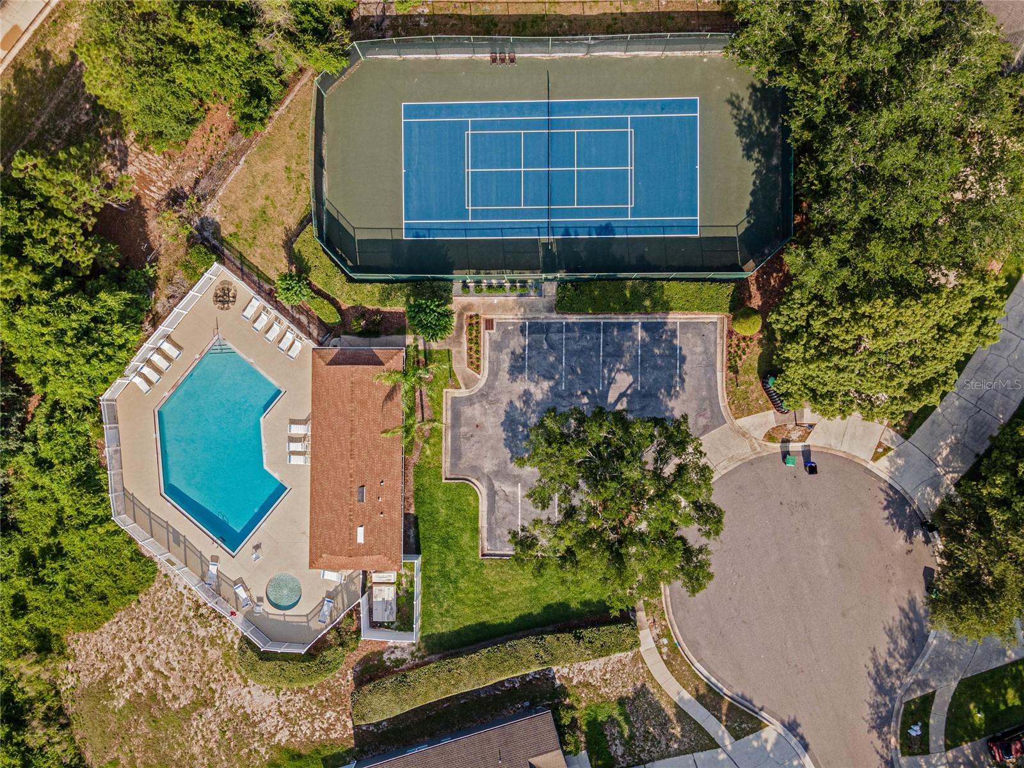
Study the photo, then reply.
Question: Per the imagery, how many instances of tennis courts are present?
1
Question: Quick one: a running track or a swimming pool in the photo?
swimming pool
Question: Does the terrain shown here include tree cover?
Yes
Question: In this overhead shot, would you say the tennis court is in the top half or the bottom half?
top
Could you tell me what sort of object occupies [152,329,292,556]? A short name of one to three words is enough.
swimming pool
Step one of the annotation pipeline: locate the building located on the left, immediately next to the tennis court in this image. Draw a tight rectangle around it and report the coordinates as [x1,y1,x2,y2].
[311,346,406,571]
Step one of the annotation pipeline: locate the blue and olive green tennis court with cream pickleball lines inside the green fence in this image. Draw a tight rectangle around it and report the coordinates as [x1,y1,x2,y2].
[323,53,777,278]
